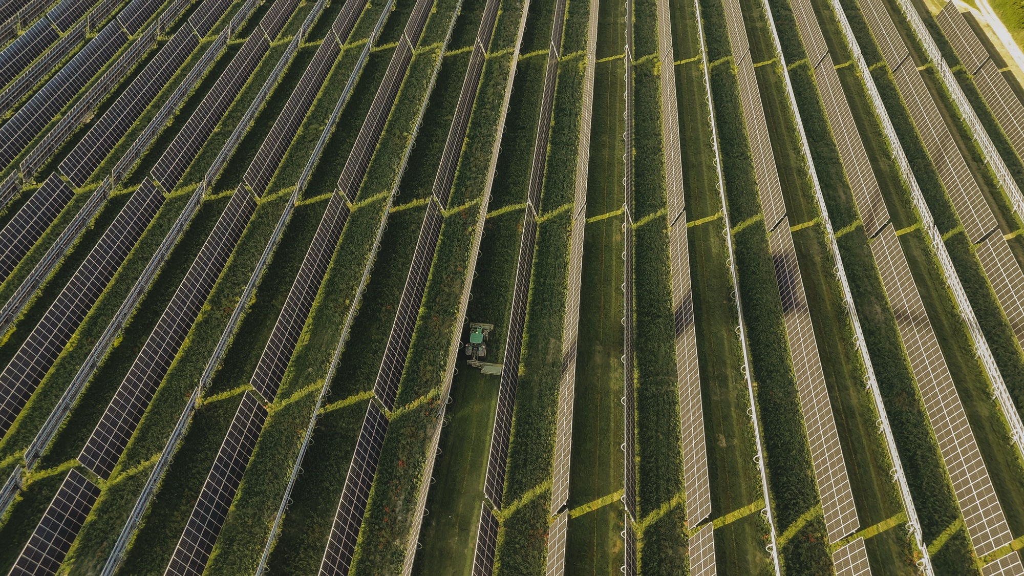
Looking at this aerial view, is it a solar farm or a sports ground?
solar farm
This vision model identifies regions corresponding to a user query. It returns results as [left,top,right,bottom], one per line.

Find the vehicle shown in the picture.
[464,321,502,378]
